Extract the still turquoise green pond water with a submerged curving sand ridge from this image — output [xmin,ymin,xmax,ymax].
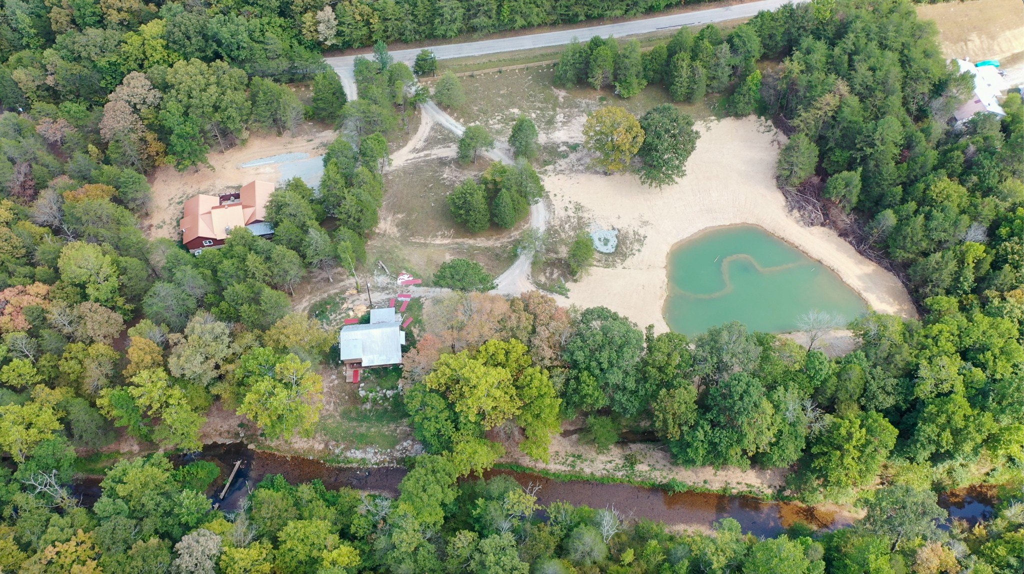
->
[671,228,861,330]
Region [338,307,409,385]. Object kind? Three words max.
building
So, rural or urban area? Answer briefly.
rural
